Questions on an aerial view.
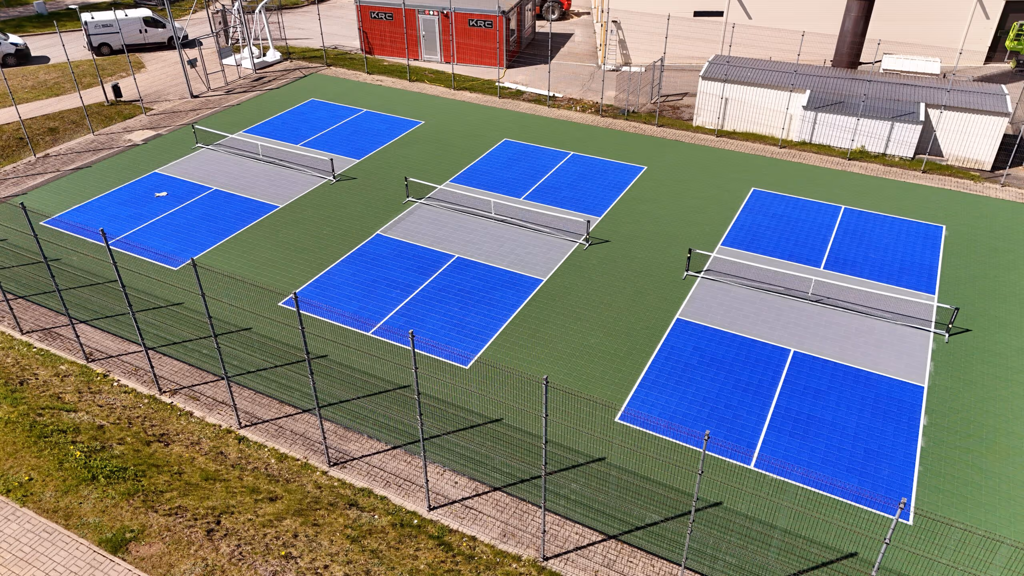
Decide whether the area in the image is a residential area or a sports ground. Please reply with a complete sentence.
It's a sports ground.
